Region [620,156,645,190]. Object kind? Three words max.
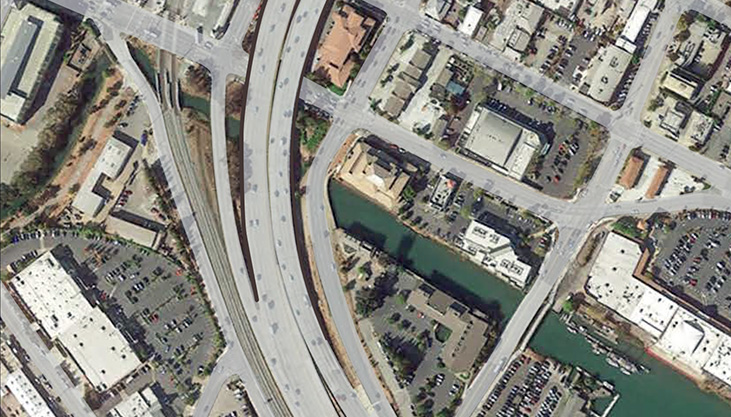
house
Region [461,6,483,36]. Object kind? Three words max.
building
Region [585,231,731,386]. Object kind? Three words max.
building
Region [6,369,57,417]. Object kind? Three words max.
shed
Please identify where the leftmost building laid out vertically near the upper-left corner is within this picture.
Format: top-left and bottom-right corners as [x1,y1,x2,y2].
[0,1,63,127]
